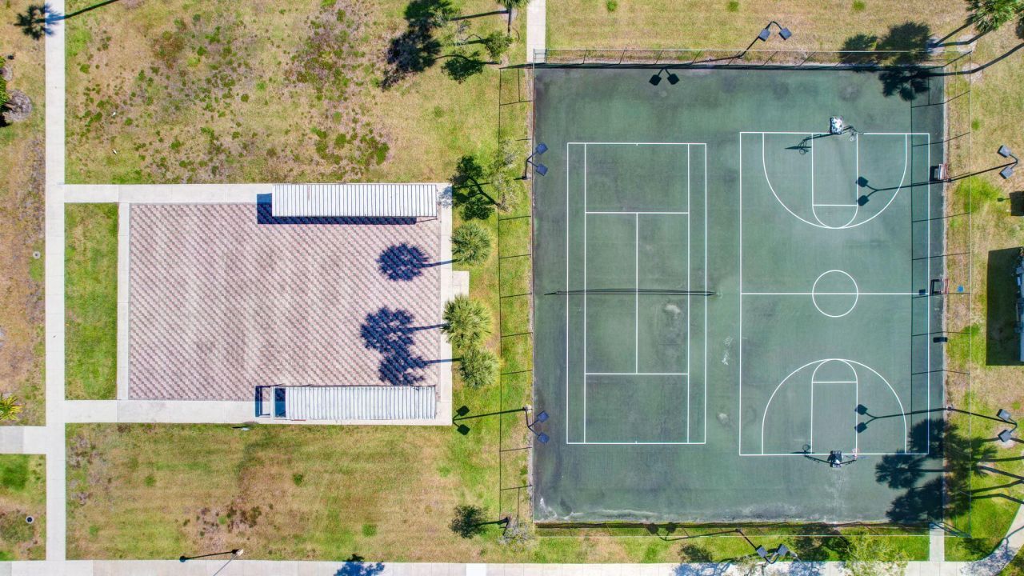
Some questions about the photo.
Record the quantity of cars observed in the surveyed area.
zero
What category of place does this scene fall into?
sports ground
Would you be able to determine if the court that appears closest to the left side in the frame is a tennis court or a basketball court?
tennis court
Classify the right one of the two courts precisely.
basketball court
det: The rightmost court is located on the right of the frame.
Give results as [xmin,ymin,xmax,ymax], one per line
[723,64,947,522]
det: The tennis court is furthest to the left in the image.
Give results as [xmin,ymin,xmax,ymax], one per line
[534,64,723,522]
